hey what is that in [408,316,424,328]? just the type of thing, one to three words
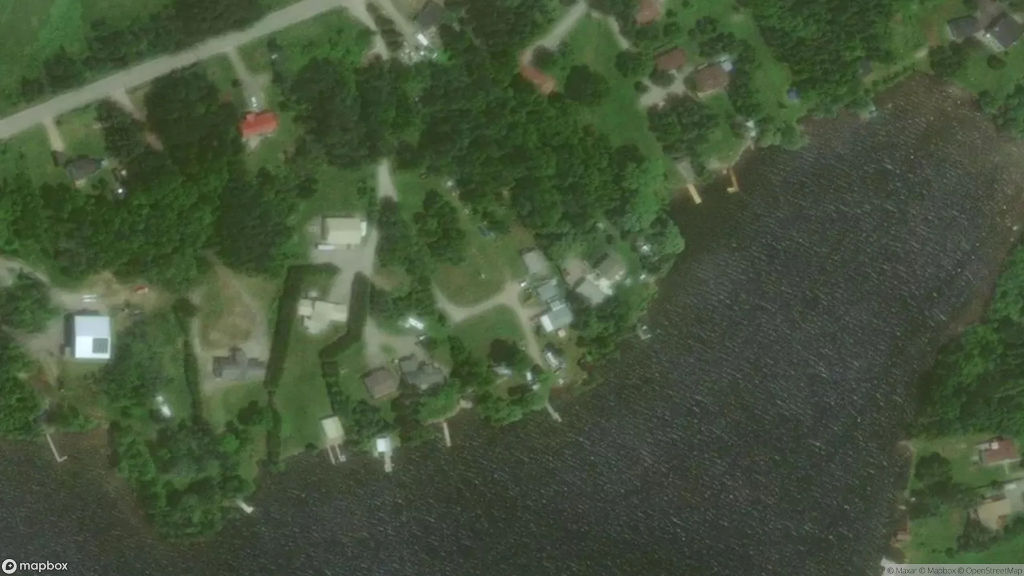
vehicle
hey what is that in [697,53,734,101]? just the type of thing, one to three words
house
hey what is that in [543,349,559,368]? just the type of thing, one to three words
vehicle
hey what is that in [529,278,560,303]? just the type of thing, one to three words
building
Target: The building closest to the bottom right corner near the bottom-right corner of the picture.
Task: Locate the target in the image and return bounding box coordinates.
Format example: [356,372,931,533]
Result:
[976,494,1013,530]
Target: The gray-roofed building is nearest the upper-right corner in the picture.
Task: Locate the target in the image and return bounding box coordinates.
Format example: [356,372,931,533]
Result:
[982,11,1024,53]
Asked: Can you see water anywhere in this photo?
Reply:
Yes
